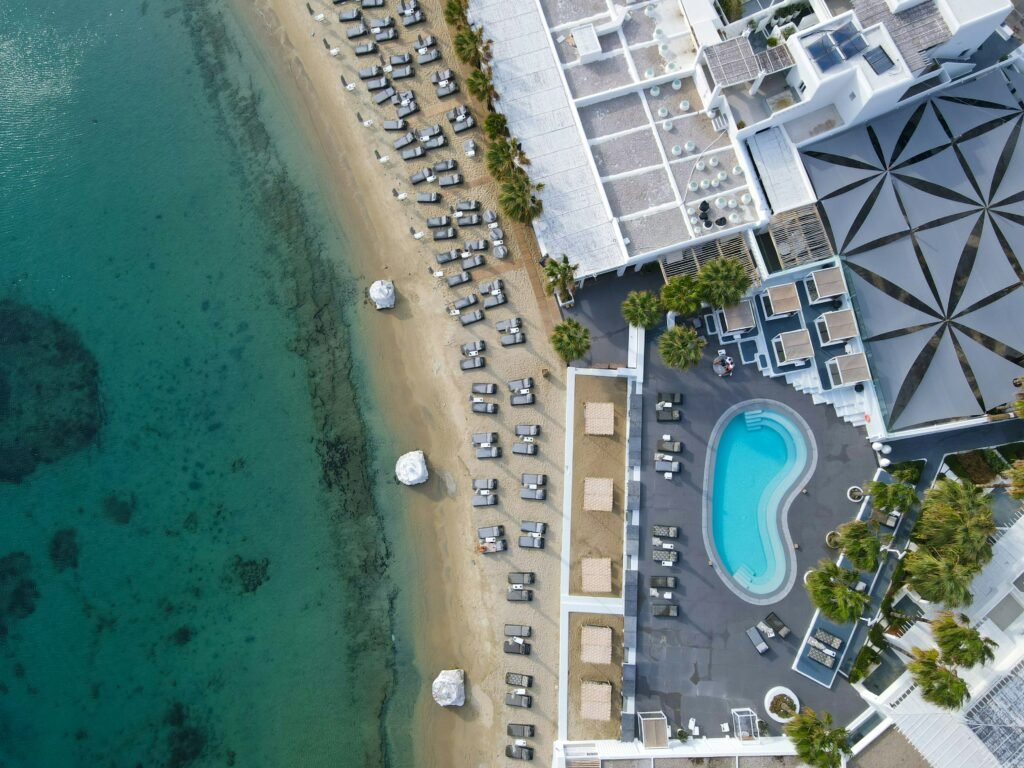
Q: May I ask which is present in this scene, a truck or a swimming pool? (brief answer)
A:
swimming pool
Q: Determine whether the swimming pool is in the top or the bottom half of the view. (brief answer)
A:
bottom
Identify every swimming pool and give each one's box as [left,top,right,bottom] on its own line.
[702,399,818,605]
